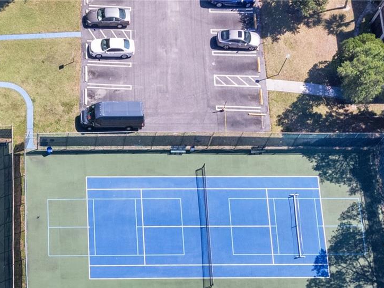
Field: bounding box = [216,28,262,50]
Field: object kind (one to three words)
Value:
car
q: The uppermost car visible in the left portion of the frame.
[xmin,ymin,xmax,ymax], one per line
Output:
[85,5,130,28]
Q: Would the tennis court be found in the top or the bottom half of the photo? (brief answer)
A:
bottom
